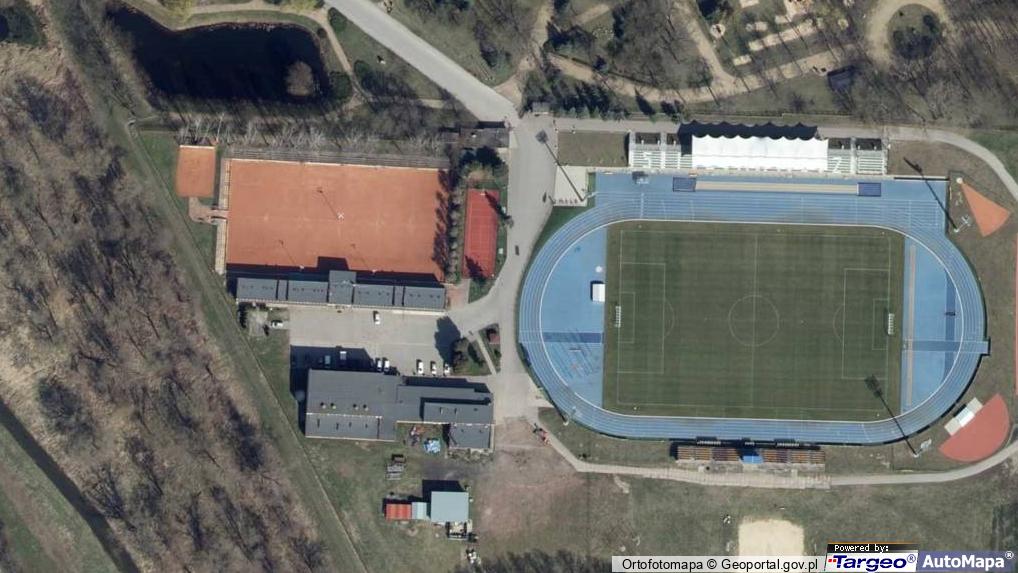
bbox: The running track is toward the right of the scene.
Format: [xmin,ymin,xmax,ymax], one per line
[519,173,989,445]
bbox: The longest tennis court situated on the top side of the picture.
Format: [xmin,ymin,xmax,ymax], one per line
[227,160,448,279]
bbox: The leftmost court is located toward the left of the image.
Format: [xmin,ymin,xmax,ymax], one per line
[175,144,217,197]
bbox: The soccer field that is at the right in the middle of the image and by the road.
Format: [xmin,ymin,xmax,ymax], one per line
[601,222,904,422]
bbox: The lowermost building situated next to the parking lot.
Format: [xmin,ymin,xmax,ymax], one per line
[303,370,494,449]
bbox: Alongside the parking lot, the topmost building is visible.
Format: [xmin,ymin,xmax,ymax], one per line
[236,268,446,315]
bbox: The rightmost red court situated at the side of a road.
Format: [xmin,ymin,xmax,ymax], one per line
[463,189,499,279]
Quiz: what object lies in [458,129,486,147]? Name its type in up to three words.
shed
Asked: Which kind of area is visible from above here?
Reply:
sports ground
